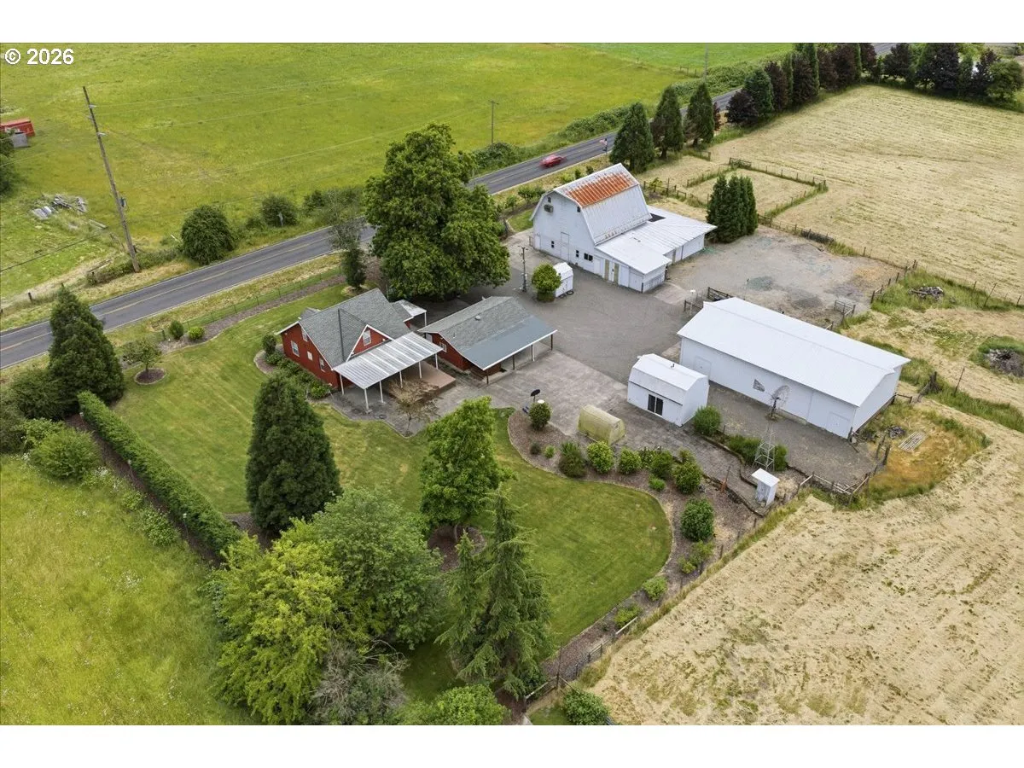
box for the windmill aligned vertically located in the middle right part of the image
[747,379,795,470]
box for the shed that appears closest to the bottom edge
[748,464,784,502]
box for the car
[543,155,569,169]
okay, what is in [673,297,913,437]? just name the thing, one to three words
shed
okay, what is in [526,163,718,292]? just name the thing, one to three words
barn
